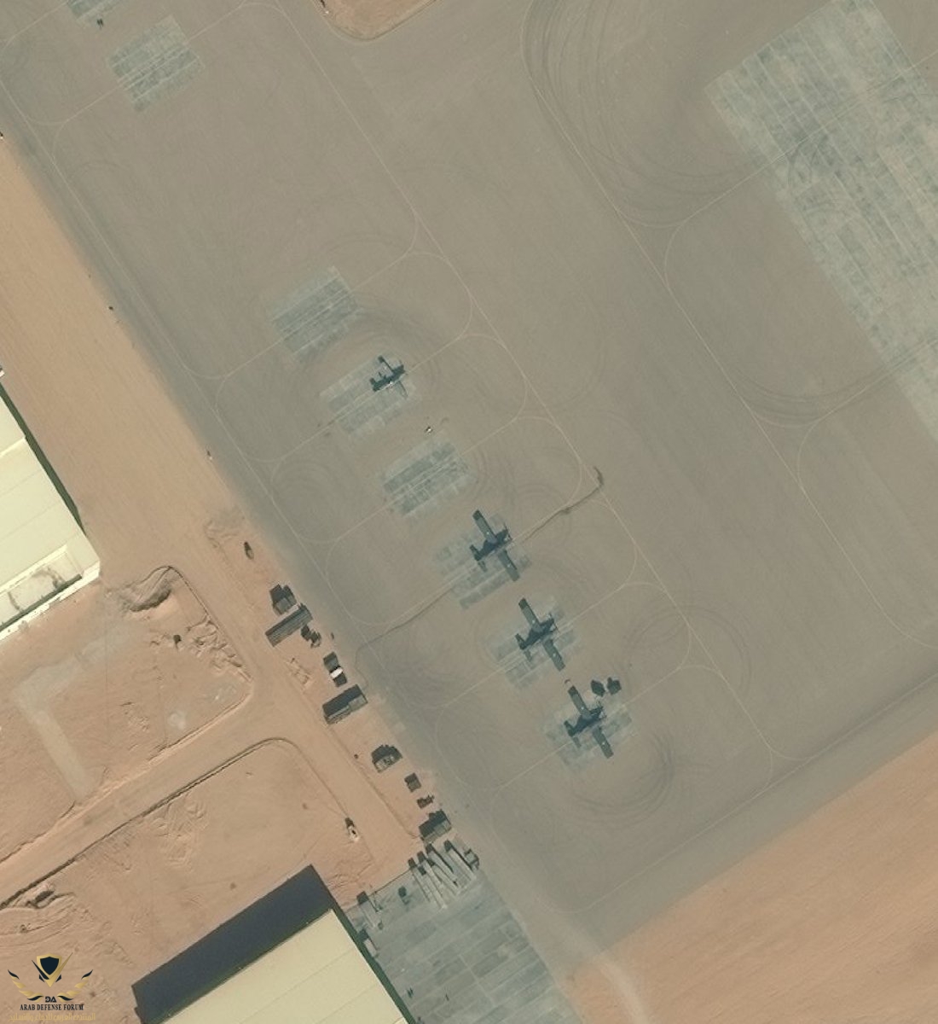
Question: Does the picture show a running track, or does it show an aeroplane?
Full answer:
Visible in the photo is an aeroplane.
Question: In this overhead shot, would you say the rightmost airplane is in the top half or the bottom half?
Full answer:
Seen from above, the rightmost airplane lies in the bottom half of the view.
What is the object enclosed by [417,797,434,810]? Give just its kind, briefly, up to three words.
vehicle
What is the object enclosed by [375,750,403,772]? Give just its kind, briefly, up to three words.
truck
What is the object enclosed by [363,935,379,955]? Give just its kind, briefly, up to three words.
vehicle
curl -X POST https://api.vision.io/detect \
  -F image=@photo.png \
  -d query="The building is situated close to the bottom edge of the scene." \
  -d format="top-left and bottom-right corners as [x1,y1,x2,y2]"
[158,909,412,1024]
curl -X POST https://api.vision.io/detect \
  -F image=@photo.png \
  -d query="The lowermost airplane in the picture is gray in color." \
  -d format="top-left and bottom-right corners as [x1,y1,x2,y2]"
[565,695,614,756]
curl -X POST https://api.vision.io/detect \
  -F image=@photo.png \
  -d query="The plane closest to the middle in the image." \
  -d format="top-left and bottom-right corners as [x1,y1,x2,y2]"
[471,518,519,579]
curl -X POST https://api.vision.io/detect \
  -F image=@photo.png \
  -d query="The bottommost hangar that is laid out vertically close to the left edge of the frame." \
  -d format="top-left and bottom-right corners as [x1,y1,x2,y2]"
[0,405,101,635]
